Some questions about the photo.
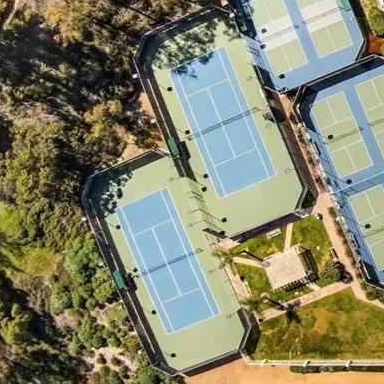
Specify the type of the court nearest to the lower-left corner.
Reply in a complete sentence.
Looking closely, the court nearest to the lower-left corner is a tennis court.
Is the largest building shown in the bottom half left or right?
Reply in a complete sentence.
The largest building shown in the bottom half appears in the right half of the scene.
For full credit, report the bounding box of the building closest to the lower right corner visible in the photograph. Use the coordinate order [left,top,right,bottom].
[261,242,313,291]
